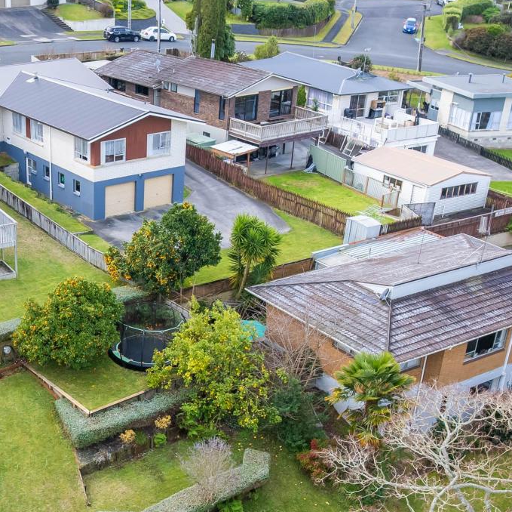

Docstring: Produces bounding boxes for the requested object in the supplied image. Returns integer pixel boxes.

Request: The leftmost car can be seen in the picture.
[101,24,143,42]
